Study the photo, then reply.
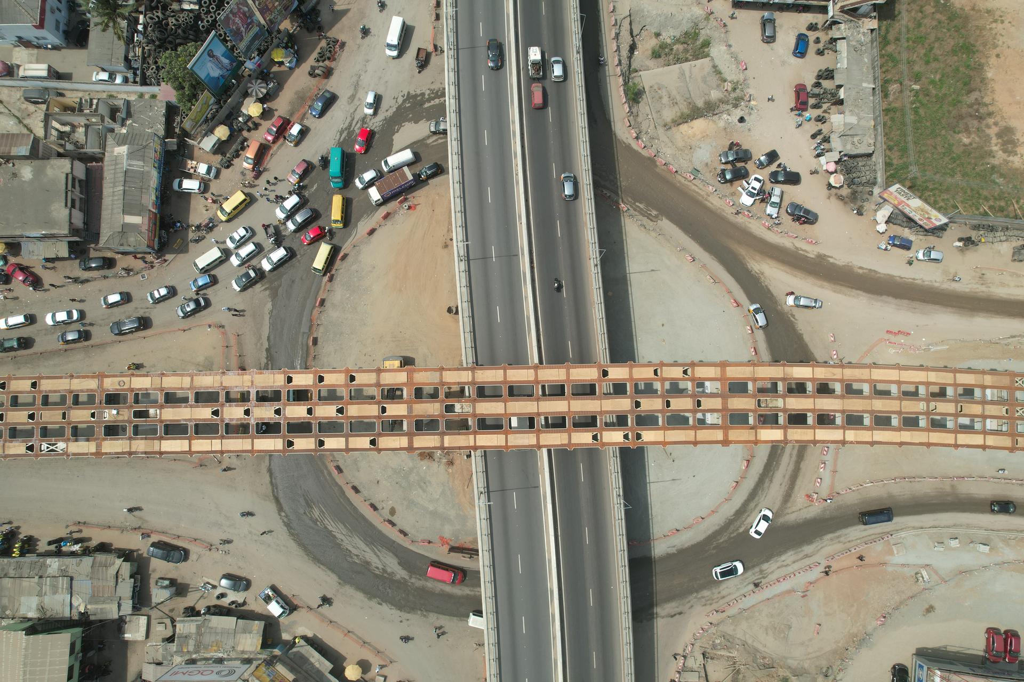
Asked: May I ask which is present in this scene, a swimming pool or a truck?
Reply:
truck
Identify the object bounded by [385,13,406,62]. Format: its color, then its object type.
white vehicle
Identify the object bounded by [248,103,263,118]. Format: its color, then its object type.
yellow umbrella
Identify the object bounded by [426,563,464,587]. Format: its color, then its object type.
red vehicle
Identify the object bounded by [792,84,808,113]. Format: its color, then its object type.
red car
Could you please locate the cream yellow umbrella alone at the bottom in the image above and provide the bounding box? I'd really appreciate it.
[344,663,361,681]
